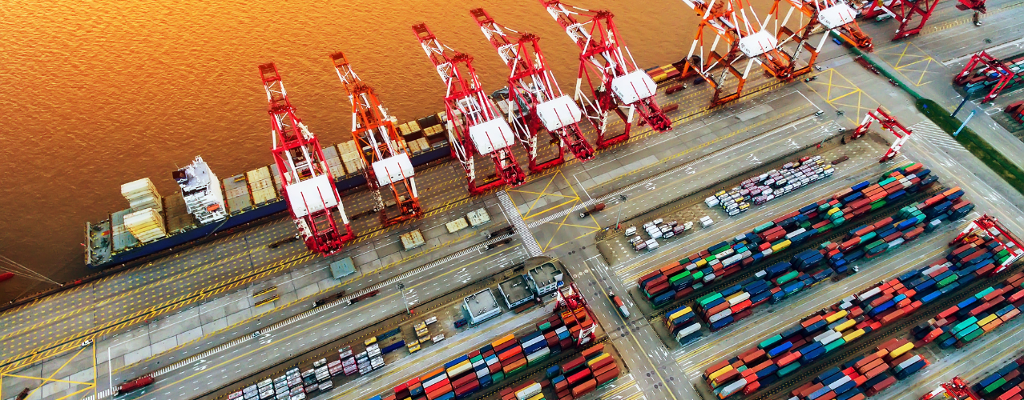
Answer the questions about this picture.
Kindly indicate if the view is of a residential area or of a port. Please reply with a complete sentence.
It's a port.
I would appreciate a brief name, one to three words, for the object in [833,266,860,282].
vehicle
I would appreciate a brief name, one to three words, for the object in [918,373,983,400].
crane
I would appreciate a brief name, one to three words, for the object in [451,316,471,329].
vehicle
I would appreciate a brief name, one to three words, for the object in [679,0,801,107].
container crane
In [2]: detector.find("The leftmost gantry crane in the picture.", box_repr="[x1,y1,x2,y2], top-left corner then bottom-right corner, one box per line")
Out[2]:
[257,61,360,258]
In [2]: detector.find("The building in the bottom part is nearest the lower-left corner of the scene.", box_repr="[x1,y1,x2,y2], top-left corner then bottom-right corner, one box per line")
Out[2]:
[464,289,499,325]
